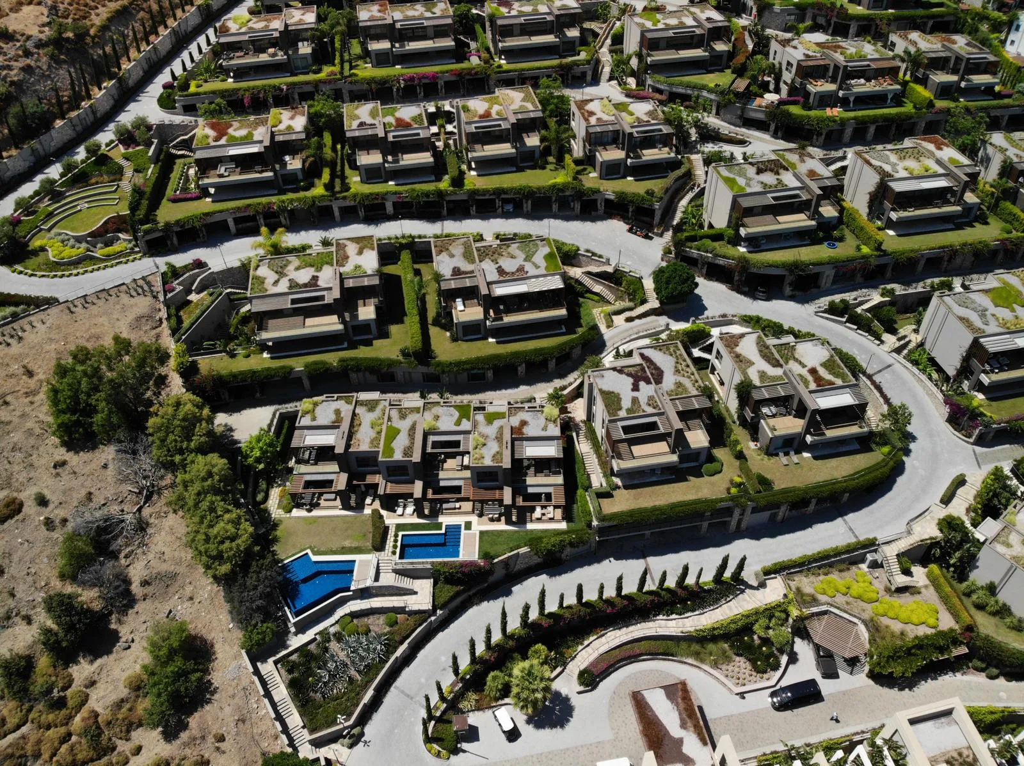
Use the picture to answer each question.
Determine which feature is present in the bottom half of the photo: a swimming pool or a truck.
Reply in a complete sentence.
The one visible in the bottom half of the photo is a swimming pool.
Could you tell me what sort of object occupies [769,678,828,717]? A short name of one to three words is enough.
car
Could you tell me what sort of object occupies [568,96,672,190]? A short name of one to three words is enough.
house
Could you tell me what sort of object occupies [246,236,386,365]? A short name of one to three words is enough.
house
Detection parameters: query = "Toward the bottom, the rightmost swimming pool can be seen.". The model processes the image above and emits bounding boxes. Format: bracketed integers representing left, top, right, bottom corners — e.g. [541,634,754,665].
[396,522,479,572]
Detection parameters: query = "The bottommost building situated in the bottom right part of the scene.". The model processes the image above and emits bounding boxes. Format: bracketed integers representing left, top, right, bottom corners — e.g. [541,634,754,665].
[870,697,997,766]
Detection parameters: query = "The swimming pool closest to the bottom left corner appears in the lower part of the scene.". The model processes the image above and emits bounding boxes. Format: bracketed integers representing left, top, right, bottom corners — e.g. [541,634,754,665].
[281,549,376,627]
